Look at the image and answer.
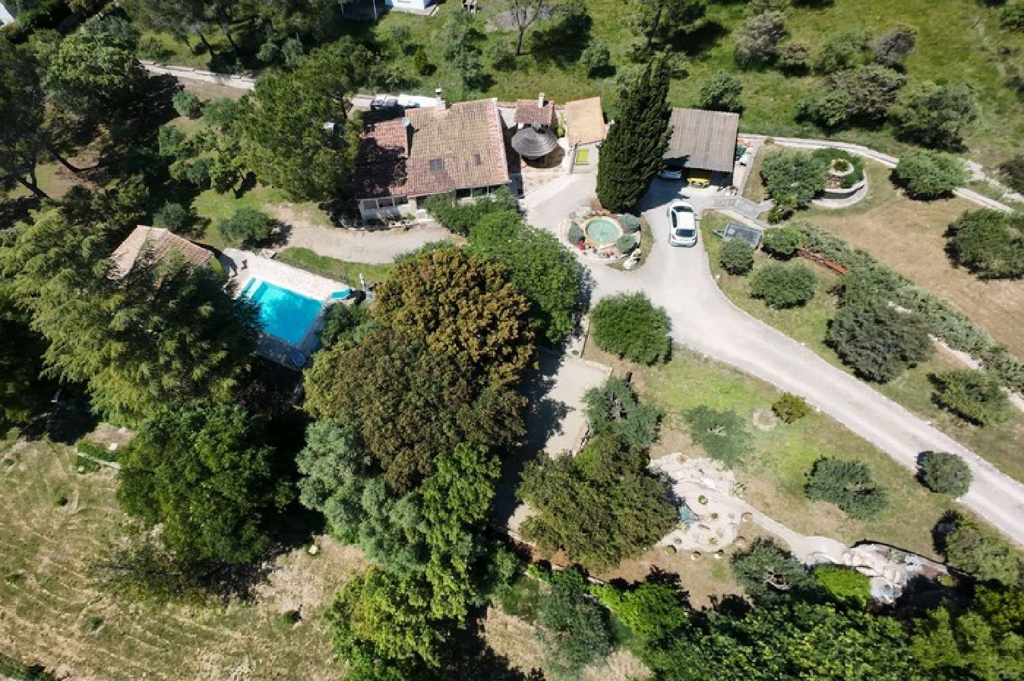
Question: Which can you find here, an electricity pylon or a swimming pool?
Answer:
swimming pool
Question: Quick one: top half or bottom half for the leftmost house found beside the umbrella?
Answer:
top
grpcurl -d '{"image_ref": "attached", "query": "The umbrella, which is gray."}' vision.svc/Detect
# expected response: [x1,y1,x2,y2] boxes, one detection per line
[511,129,558,171]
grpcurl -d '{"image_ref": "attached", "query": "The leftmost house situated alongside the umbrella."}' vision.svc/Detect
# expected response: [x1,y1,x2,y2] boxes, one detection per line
[407,87,515,239]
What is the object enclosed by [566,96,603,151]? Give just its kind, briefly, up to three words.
shed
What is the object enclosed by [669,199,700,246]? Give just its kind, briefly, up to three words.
car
